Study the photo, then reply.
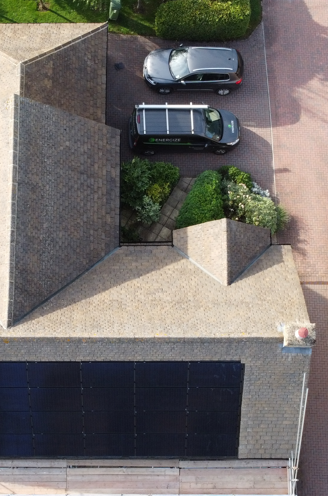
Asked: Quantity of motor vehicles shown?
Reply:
2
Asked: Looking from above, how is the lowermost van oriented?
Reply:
from side to side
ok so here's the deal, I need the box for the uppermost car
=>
[142,44,245,99]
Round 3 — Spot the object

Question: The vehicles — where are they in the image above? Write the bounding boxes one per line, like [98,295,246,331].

[142,44,245,99]
[128,102,242,157]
